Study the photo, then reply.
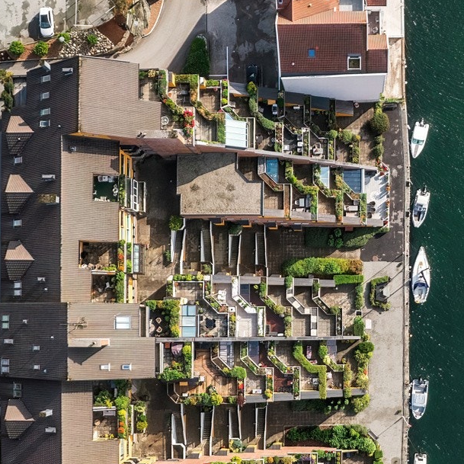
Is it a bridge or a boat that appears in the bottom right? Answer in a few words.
boat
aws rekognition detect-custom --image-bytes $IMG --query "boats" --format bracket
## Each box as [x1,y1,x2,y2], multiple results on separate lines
[413,184,431,227]
[412,245,429,303]
[410,375,427,420]
[413,447,426,464]
[410,117,429,158]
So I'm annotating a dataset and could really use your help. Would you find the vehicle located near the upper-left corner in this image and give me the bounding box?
[38,5,56,40]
